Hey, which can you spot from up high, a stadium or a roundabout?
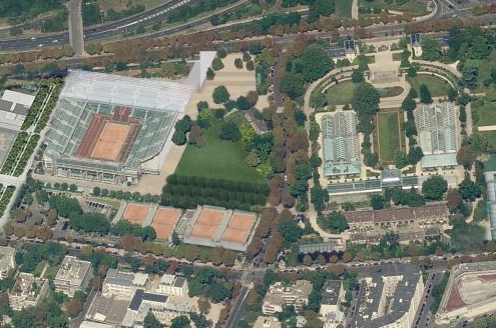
stadium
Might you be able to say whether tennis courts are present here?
Yes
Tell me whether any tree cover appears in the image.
Yes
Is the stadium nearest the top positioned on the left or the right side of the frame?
left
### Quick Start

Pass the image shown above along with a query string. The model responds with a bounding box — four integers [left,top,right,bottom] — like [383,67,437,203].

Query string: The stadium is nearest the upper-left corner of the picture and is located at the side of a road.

[43,68,201,187]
